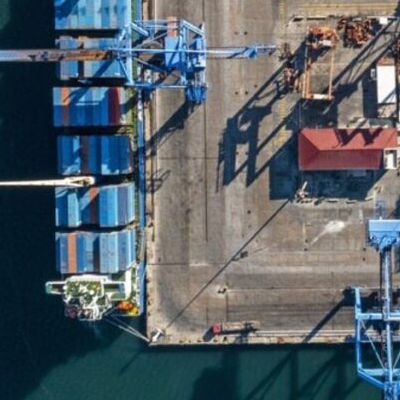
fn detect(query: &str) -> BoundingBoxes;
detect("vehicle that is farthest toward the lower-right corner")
[212,321,259,334]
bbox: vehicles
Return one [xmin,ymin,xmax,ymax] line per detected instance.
[371,68,376,80]
[212,321,259,334]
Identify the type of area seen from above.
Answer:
port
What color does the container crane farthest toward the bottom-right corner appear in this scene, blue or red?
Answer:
blue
